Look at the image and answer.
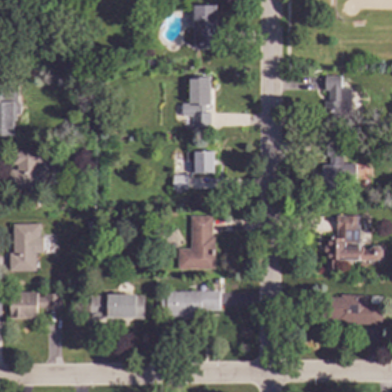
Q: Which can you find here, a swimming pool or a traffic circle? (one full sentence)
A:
Looking from above, you can make out a swimming pool.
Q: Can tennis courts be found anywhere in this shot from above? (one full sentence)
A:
No, I find no tennis court anywhere in the image.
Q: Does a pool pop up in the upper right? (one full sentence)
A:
No, there is no pool in the upper right.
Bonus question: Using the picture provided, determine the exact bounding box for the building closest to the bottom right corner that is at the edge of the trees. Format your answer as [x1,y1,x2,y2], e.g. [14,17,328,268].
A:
[332,296,386,326]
